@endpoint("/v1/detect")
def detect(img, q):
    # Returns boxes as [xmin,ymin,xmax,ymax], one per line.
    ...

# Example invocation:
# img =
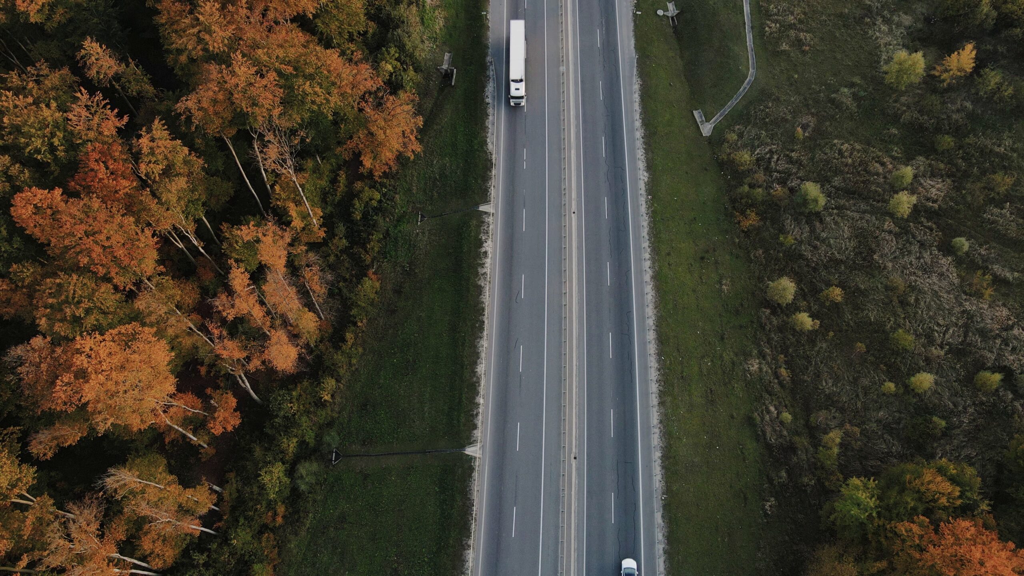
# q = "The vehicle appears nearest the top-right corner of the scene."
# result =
[509,20,527,107]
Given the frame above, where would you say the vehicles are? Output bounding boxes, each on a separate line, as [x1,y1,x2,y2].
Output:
[621,558,638,576]
[509,20,527,107]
